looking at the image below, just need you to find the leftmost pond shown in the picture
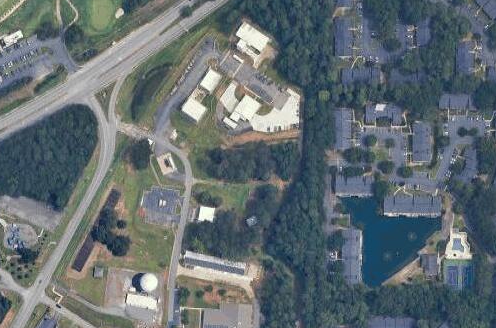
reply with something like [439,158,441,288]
[337,195,443,287]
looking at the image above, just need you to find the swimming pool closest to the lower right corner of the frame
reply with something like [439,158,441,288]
[445,229,472,259]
